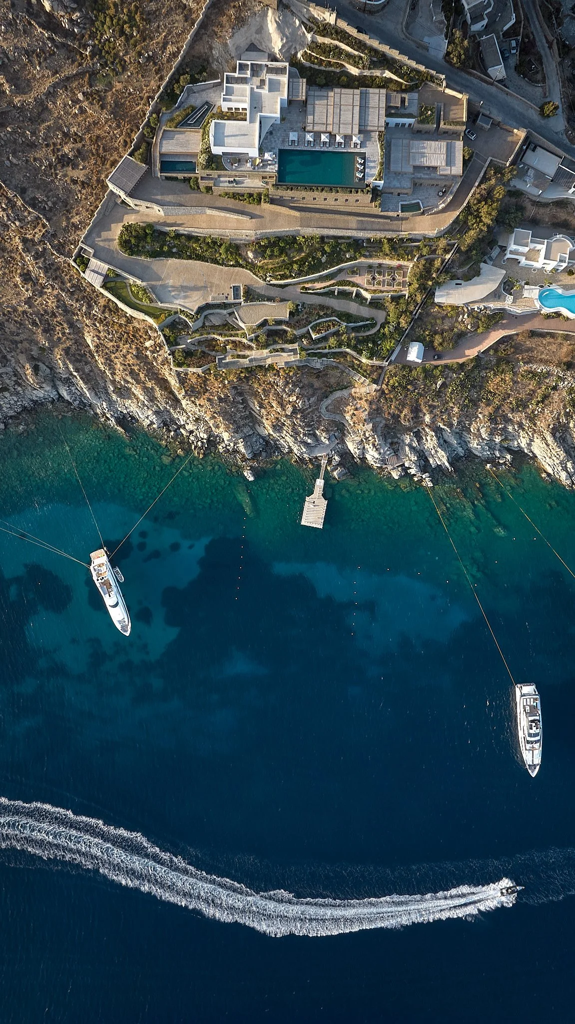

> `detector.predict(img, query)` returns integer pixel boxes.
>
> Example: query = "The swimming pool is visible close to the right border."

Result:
[537,284,575,320]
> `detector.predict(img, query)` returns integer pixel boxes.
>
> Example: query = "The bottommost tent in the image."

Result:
[407,339,425,362]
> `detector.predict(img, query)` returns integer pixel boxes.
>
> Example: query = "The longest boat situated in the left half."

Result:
[91,549,128,637]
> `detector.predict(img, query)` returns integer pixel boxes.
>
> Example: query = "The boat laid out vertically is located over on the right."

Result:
[518,683,544,781]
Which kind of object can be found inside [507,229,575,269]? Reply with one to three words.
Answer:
house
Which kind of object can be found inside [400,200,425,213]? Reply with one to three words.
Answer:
swimming pool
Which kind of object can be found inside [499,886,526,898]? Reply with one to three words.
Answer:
boat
